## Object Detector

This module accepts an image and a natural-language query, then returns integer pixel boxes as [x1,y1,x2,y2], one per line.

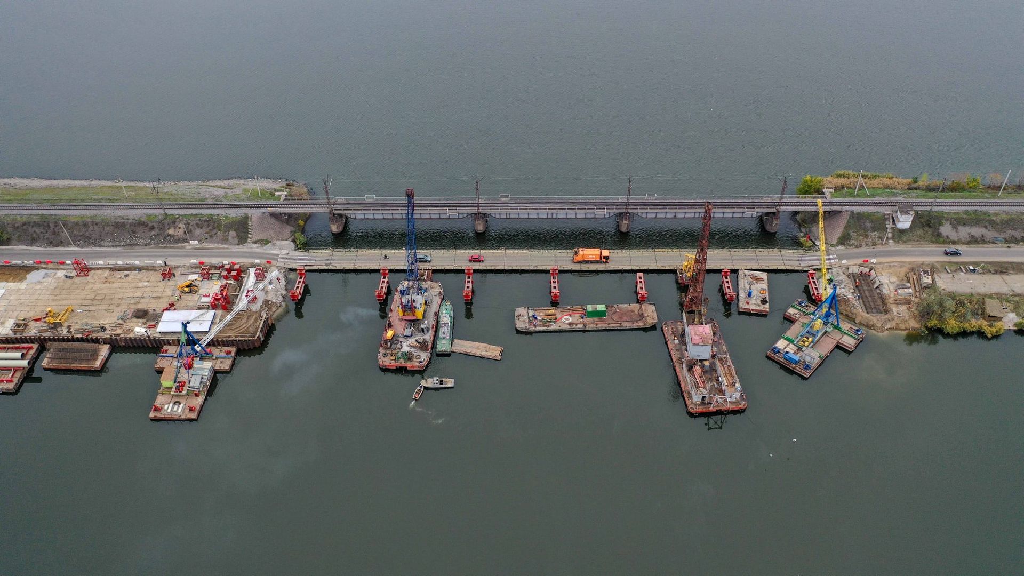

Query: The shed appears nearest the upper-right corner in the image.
[893,202,922,226]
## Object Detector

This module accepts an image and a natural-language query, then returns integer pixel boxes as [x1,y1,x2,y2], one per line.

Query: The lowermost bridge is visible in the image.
[277,246,840,274]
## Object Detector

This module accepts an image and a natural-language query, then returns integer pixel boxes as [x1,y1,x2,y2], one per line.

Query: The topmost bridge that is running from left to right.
[272,187,840,235]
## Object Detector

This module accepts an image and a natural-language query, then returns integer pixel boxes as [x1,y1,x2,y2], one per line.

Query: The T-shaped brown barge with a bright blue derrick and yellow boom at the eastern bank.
[766,198,866,378]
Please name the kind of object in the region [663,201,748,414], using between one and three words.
ship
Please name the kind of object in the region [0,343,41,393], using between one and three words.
ship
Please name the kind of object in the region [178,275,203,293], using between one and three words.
work vehicle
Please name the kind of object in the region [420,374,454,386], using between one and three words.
boat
